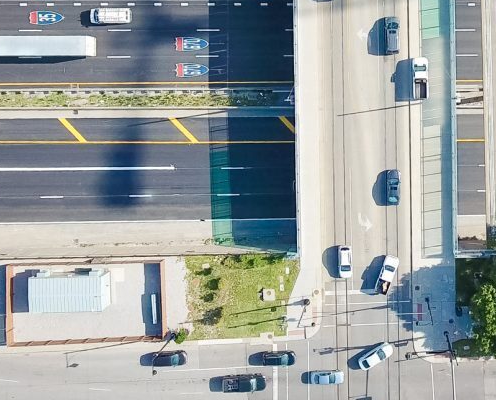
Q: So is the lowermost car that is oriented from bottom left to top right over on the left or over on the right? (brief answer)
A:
right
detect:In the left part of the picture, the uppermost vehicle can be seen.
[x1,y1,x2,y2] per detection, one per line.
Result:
[91,6,133,25]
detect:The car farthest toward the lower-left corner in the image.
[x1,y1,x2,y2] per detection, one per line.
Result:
[151,349,188,367]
